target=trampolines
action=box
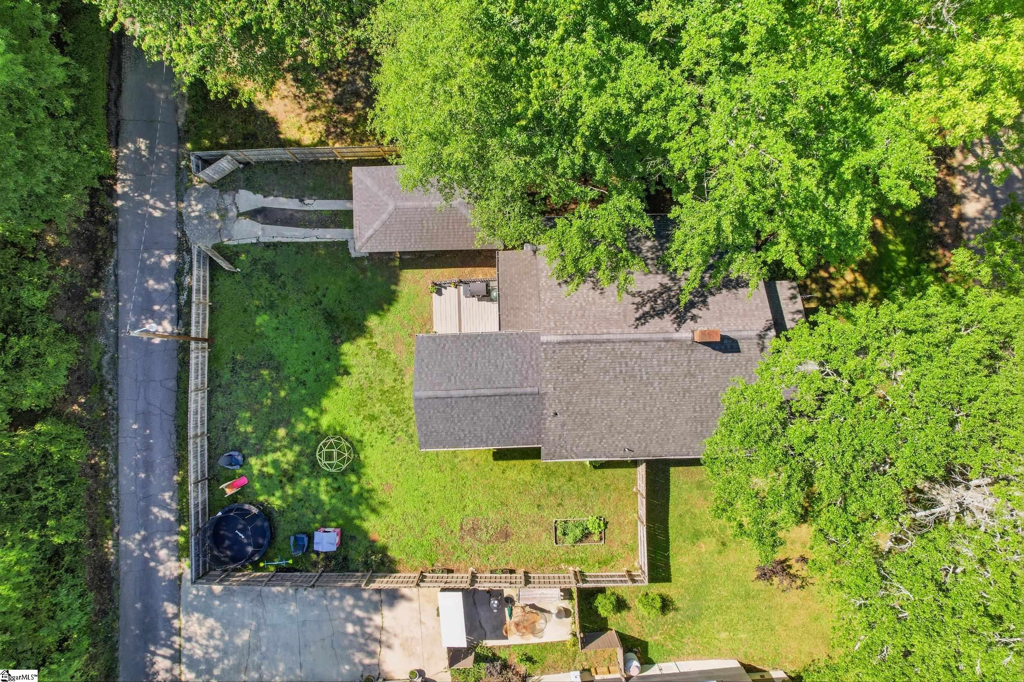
[202,501,273,571]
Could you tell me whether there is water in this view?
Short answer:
No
